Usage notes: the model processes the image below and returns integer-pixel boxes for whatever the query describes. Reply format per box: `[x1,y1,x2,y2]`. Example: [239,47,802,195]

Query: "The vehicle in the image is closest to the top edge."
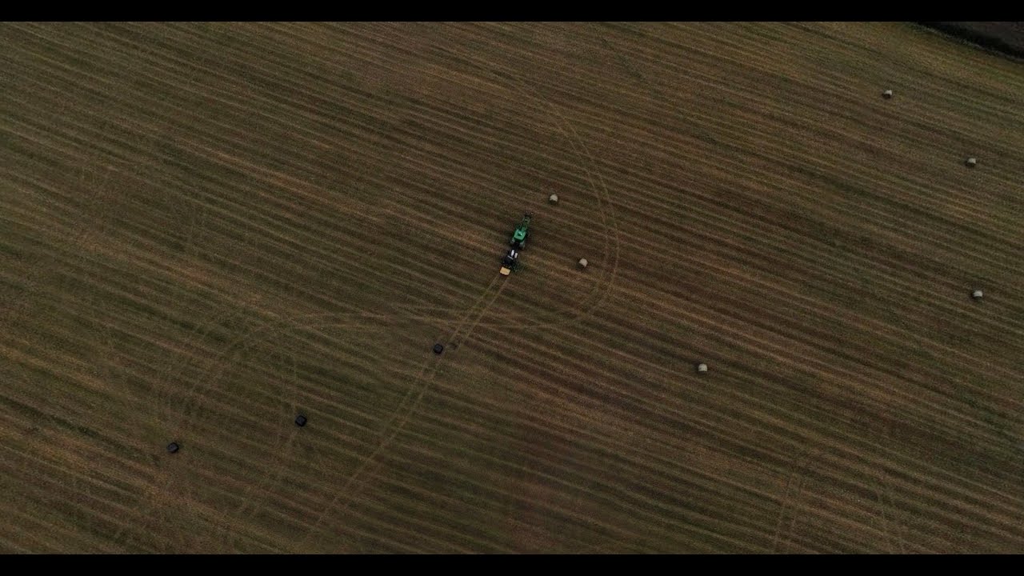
[510,214,533,250]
